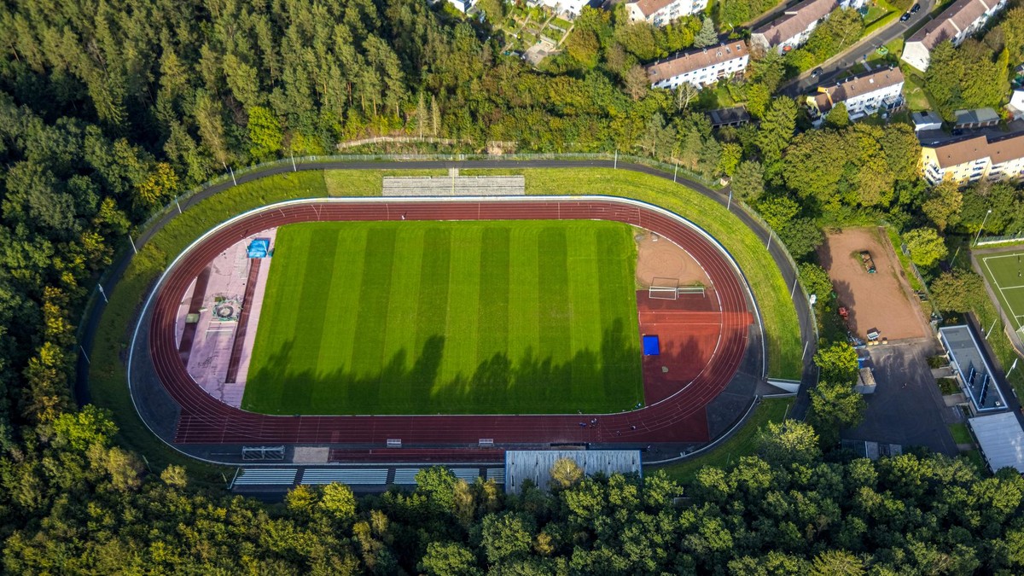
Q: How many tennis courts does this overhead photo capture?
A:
0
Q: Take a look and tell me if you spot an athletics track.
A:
Yes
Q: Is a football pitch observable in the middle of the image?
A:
Yes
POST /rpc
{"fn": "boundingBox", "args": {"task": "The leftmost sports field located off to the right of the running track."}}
[826,227,933,345]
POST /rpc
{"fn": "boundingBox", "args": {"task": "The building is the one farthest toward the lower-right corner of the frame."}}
[966,412,1024,479]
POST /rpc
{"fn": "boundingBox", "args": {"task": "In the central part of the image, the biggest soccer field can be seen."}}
[242,219,644,415]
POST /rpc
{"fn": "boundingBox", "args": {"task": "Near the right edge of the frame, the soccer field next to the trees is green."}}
[974,248,1024,346]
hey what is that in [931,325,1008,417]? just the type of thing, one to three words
building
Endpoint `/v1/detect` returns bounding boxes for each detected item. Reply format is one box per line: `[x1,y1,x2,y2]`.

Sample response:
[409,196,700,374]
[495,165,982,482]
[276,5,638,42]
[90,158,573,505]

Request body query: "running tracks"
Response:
[150,202,755,443]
